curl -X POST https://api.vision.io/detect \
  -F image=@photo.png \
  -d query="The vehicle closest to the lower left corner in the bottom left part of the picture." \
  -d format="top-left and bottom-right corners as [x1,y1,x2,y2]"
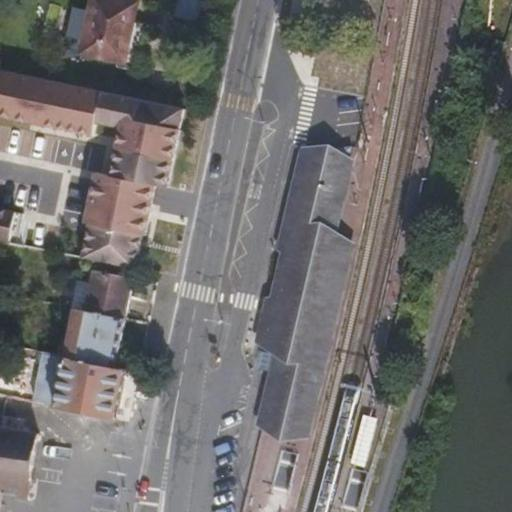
[43,446,72,460]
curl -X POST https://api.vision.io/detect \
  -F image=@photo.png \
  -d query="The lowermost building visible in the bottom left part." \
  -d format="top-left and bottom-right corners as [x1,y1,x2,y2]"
[0,426,36,500]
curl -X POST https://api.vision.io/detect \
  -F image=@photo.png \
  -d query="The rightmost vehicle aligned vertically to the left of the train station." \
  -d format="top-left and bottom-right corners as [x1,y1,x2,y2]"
[209,154,222,176]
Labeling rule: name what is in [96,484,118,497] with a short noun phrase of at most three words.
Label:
vehicle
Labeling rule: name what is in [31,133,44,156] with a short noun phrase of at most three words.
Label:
vehicle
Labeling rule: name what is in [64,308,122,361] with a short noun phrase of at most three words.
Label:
house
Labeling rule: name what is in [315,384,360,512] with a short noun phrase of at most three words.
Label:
train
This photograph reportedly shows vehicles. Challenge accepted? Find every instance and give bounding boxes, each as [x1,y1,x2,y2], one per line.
[8,130,21,152]
[336,96,359,108]
[64,184,85,196]
[138,478,148,499]
[14,184,26,206]
[214,478,236,491]
[33,224,44,245]
[214,454,234,466]
[62,198,82,210]
[222,412,243,426]
[214,506,236,512]
[214,466,234,478]
[212,492,234,505]
[0,182,12,205]
[43,446,72,460]
[214,442,237,455]
[209,154,222,176]
[31,133,44,156]
[27,186,40,208]
[96,484,118,497]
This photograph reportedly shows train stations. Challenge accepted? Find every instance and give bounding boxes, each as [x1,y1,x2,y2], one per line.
[255,144,354,440]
